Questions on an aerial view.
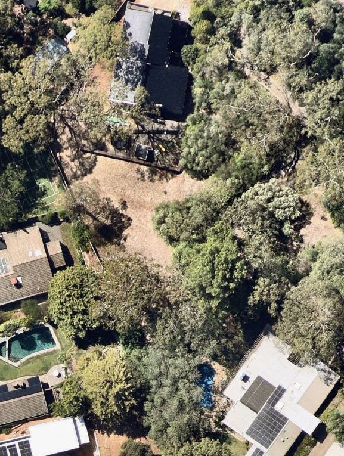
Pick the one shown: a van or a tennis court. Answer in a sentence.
This aerial view contains a tennis court.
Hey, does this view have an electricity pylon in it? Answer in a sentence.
No, no electricity pylon is visible in the view.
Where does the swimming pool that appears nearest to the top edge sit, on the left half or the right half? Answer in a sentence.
It is on the left.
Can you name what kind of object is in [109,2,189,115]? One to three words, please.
house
